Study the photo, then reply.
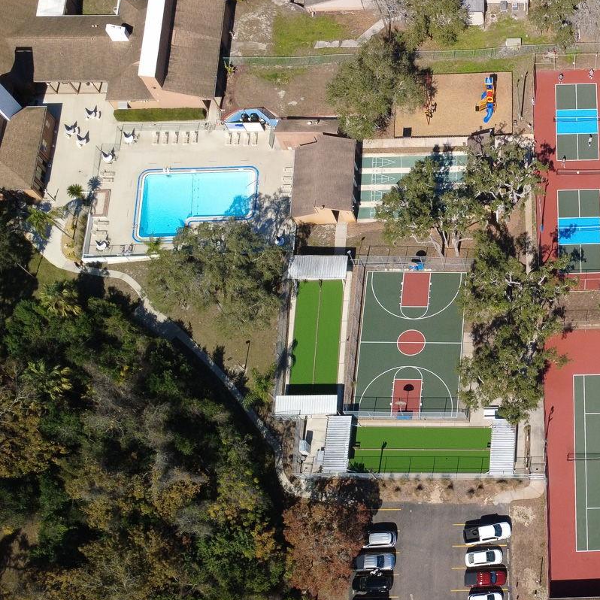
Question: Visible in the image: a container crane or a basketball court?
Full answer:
There is a basketball court in the scene.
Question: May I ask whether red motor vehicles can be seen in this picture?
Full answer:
Yes, you can see a red motor vehicle in this photo.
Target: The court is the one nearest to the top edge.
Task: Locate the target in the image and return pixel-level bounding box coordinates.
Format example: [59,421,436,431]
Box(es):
[555,83,600,161]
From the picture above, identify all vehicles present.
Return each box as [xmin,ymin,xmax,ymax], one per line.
[351,574,393,592]
[351,553,395,571]
[467,590,503,600]
[465,548,502,566]
[462,522,512,545]
[361,530,396,548]
[463,568,505,588]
